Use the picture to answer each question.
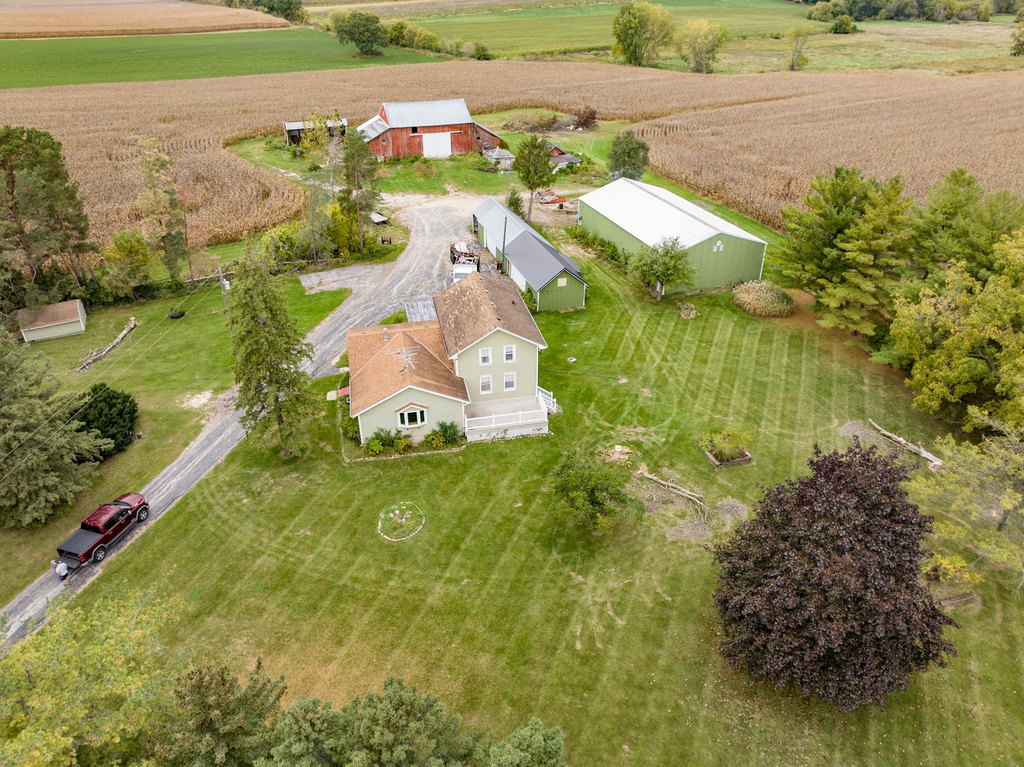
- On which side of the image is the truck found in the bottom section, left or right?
left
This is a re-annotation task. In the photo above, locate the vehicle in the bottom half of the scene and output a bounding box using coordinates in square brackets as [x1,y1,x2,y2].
[50,494,153,576]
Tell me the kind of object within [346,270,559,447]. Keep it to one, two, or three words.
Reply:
house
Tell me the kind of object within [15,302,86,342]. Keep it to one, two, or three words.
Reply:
shed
